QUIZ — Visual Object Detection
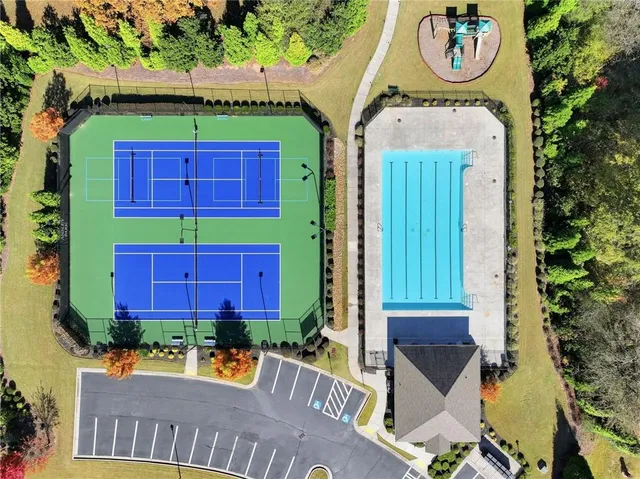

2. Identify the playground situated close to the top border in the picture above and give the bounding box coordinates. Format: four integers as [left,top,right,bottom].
[433,23,491,68]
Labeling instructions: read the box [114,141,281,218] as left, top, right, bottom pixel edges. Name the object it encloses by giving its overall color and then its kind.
blue tennis court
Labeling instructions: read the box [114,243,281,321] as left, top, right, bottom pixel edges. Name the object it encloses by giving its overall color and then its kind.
blue tennis court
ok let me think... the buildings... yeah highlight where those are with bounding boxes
[393,344,481,456]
